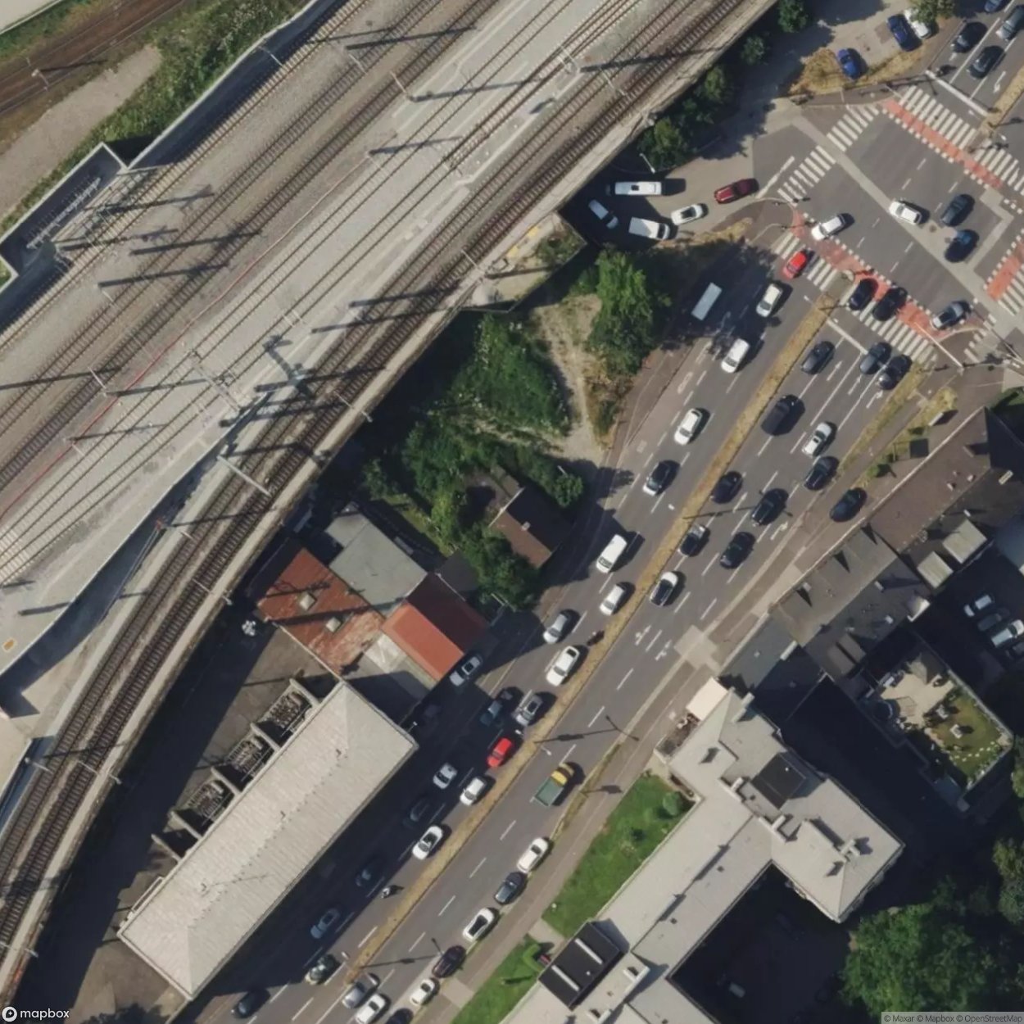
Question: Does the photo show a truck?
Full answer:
Yes, this view includes a truck.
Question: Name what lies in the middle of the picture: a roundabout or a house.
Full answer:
It is a house that can be seen in the middle of the picture.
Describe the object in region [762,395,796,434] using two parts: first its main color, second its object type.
black car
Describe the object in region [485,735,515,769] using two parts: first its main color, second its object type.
red car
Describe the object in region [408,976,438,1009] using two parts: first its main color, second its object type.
white car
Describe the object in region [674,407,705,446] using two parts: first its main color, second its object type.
white car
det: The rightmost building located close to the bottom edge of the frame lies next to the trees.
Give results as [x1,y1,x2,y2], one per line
[498,689,905,1024]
